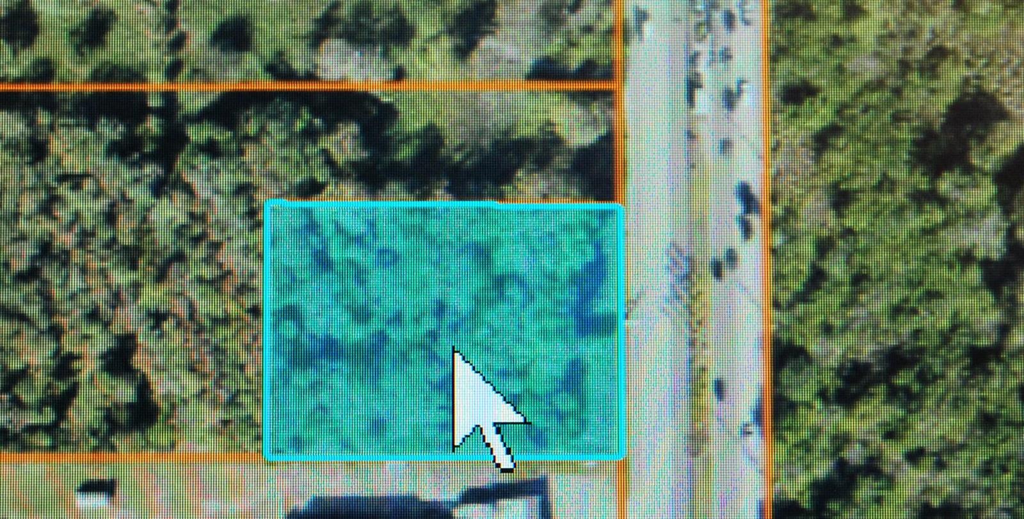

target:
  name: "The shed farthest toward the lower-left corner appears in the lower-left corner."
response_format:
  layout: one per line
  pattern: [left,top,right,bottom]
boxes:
[75,494,106,510]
